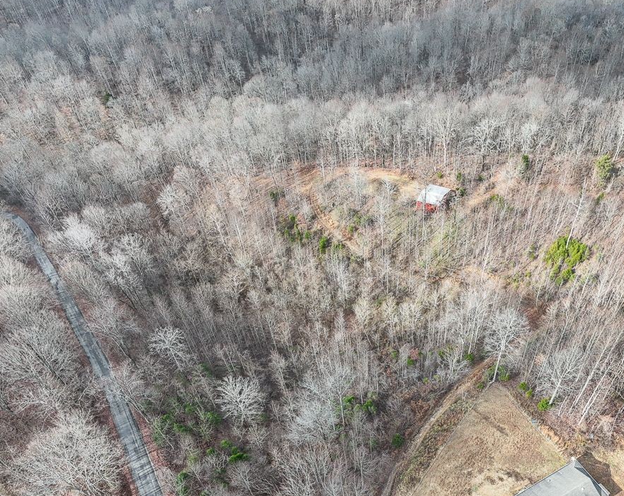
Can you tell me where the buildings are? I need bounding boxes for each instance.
[518,454,606,496]
[414,183,459,216]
